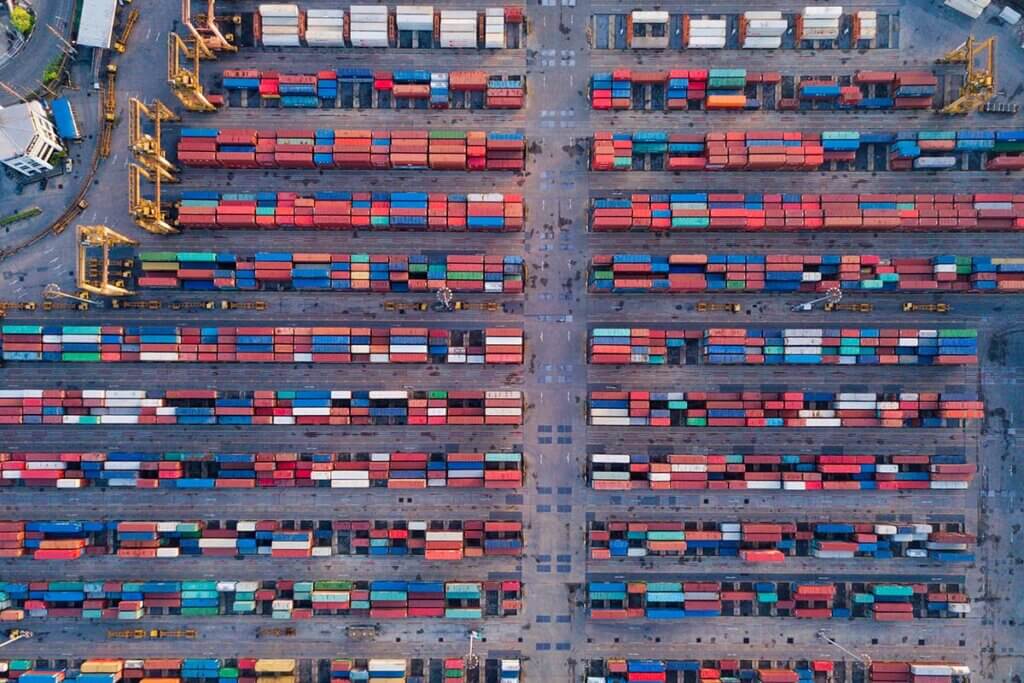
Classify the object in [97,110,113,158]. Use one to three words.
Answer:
vehicle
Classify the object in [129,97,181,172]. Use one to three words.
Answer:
container crane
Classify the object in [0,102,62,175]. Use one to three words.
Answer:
building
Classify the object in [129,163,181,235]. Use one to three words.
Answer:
container crane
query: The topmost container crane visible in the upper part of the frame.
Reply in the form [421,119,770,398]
[183,0,238,53]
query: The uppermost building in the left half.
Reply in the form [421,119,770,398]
[77,0,119,49]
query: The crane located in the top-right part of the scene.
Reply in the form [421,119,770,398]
[940,37,997,112]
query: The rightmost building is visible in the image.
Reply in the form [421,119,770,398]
[995,7,1021,27]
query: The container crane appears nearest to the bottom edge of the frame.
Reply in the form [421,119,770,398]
[77,224,138,296]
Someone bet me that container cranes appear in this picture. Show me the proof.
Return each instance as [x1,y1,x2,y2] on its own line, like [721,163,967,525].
[129,163,181,235]
[129,97,181,172]
[168,33,218,111]
[183,0,238,53]
[77,224,138,296]
[940,37,997,112]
